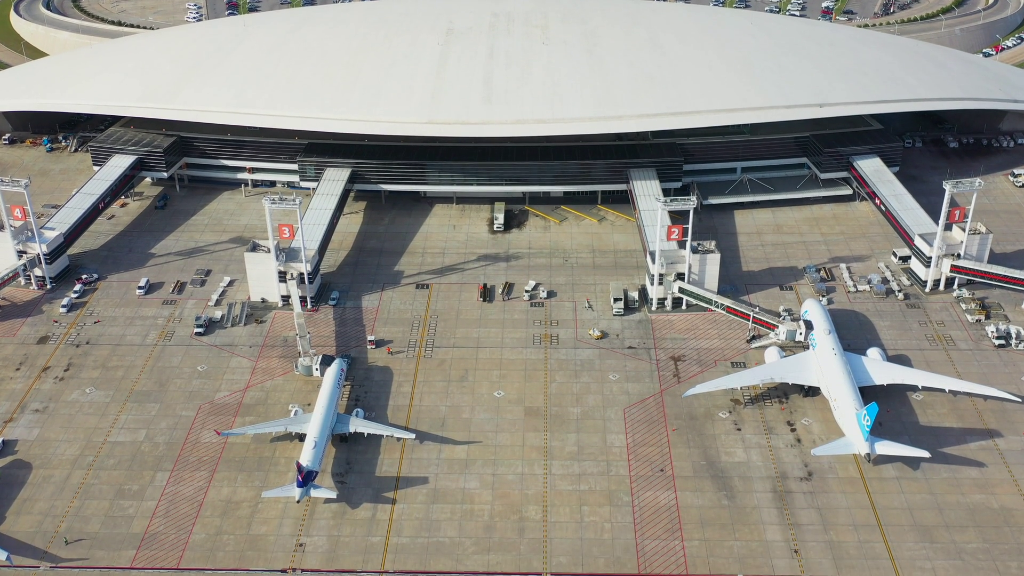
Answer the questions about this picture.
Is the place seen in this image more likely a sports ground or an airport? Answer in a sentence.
What you see here is an airport.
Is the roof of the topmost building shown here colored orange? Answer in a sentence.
No, from above the roof of the topmost building looks white.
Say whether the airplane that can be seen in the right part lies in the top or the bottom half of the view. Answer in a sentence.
You can find the airplane that can be seen in the right part in the bottom half.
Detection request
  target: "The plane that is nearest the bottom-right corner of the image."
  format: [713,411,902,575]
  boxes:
[682,298,1023,465]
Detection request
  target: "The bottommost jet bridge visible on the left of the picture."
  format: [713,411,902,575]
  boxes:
[278,273,336,380]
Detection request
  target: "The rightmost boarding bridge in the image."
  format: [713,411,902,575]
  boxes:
[939,254,1024,317]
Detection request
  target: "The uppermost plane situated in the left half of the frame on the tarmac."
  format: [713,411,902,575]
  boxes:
[213,359,418,505]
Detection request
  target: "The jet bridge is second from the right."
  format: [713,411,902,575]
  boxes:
[663,274,820,355]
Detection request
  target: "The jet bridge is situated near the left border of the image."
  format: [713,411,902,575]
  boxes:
[0,251,39,288]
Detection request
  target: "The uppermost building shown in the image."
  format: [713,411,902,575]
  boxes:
[0,0,1024,207]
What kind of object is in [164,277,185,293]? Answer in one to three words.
work vehicle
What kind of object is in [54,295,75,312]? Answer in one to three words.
vehicle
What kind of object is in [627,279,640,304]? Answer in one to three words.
vehicle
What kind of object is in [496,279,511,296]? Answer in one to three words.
work vehicle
